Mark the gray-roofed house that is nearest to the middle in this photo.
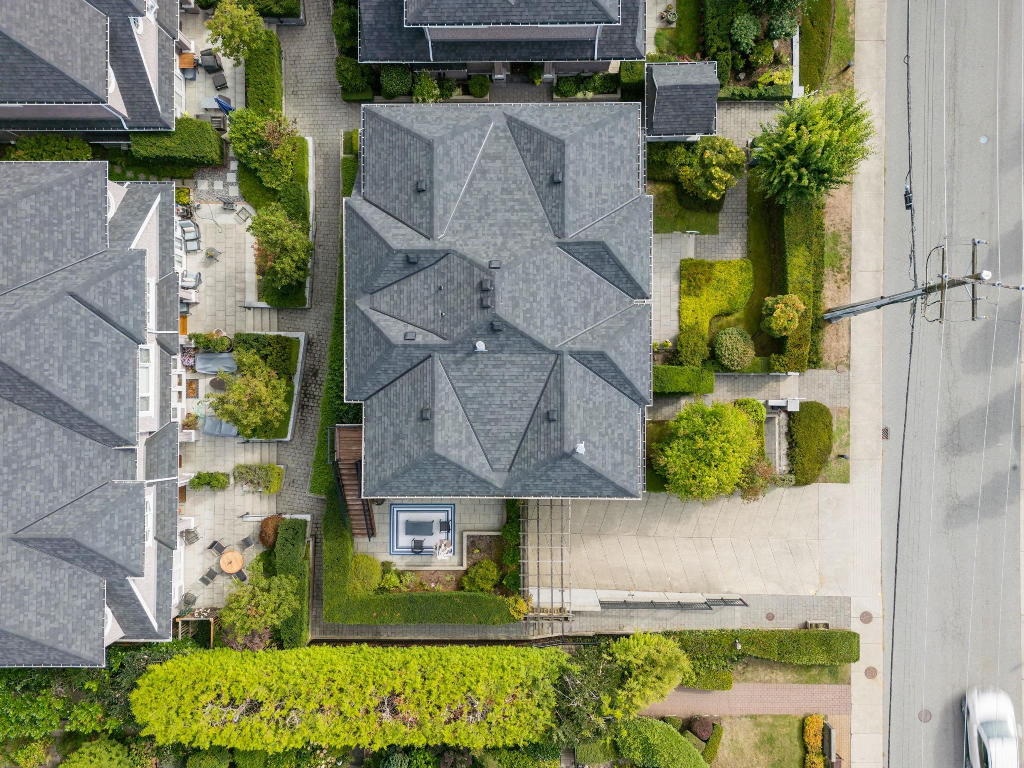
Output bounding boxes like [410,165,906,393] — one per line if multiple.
[344,102,653,499]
